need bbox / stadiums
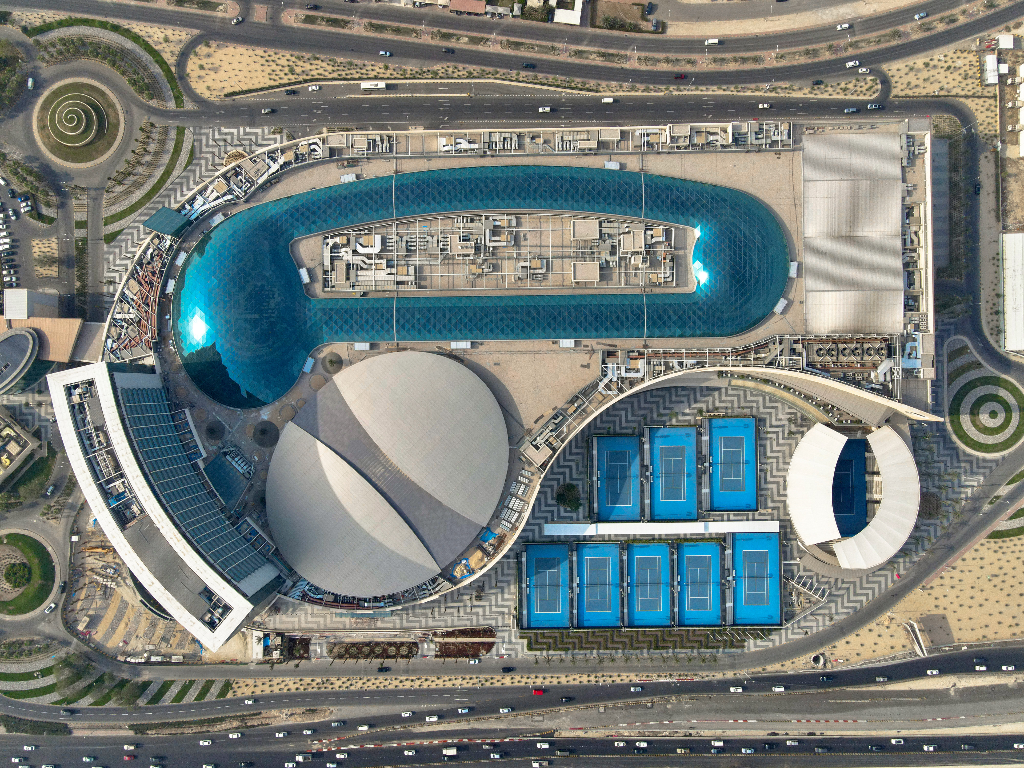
[785,418,920,577]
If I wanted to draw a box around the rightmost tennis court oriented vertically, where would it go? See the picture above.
[834,438,867,538]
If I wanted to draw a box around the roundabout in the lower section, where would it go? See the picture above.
[0,528,60,620]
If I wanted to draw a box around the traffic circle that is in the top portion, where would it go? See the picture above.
[33,77,125,168]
